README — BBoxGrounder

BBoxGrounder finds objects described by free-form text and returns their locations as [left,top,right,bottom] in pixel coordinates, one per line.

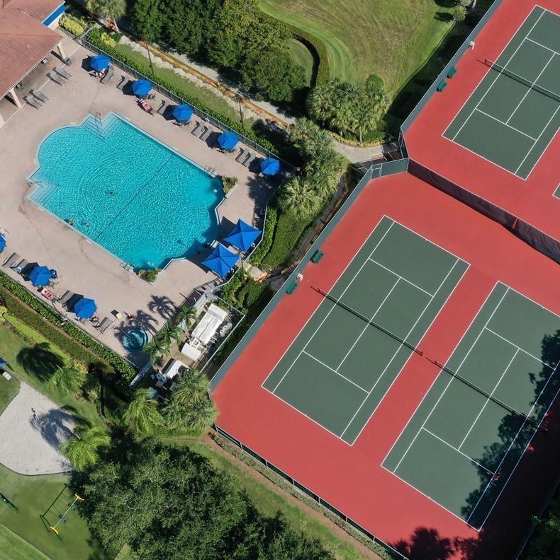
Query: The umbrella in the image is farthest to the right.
[261,157,281,178]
